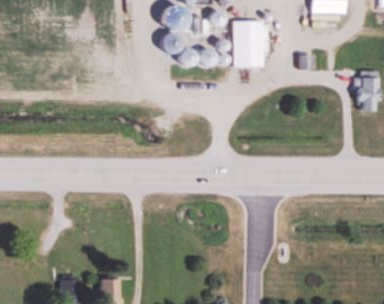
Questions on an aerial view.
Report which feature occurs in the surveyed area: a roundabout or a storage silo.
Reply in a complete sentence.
Looking from above, you can make out a storage silo.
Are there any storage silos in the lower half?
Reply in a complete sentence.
No, looking in the lower half, there is no storage silo.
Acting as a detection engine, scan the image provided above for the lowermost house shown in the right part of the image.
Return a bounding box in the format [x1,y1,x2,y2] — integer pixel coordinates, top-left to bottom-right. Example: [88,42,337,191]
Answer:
[352,72,384,112]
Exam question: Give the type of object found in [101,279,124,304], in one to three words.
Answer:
house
